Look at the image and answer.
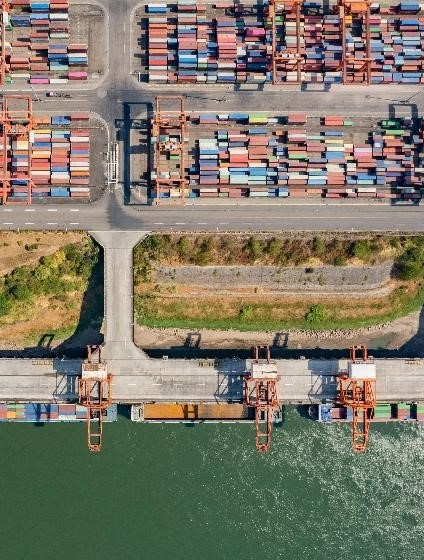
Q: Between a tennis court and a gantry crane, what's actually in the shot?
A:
gantry crane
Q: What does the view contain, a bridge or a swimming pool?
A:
bridge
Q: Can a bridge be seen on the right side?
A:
No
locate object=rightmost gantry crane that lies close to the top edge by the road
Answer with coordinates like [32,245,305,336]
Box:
[328,0,372,87]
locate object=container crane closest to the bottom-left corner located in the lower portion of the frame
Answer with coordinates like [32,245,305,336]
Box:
[72,344,112,453]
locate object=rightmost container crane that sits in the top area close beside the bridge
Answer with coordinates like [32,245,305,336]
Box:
[145,95,186,207]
